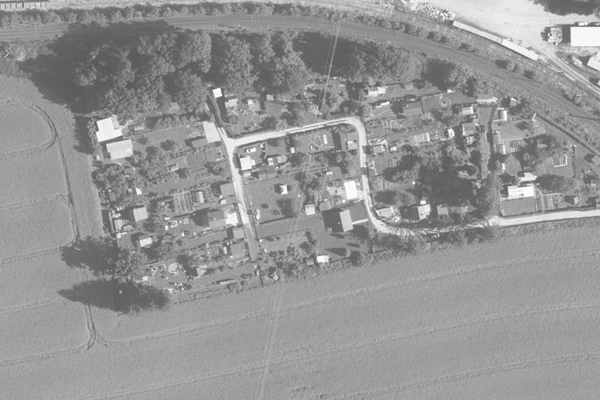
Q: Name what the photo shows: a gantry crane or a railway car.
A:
railway car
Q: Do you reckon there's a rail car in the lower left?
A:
No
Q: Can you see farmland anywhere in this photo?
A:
Yes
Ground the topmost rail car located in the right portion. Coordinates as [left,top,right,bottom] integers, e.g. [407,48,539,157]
[454,19,502,46]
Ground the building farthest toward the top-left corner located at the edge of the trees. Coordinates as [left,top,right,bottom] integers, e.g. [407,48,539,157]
[96,117,122,142]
